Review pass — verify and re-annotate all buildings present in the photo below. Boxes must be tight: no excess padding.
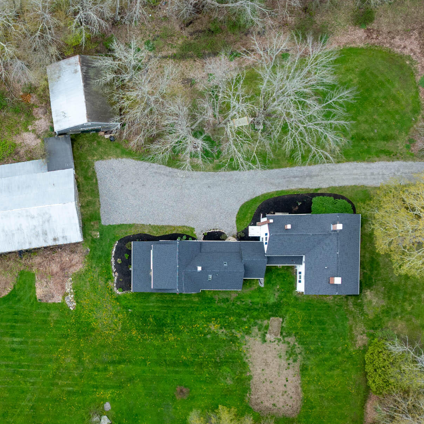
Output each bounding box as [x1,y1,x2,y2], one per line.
[0,160,83,253]
[46,54,120,135]
[131,213,361,295]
